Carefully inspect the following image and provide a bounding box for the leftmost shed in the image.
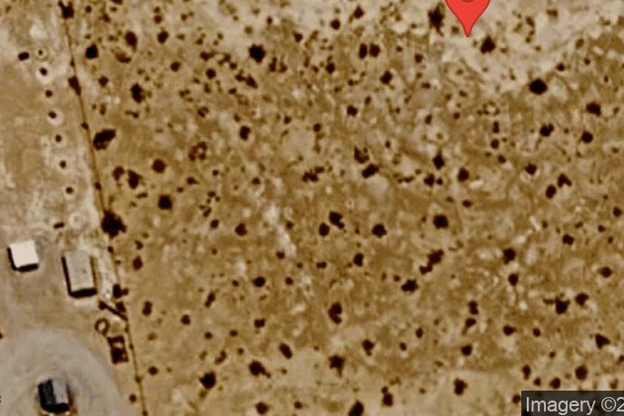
[8,240,39,269]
